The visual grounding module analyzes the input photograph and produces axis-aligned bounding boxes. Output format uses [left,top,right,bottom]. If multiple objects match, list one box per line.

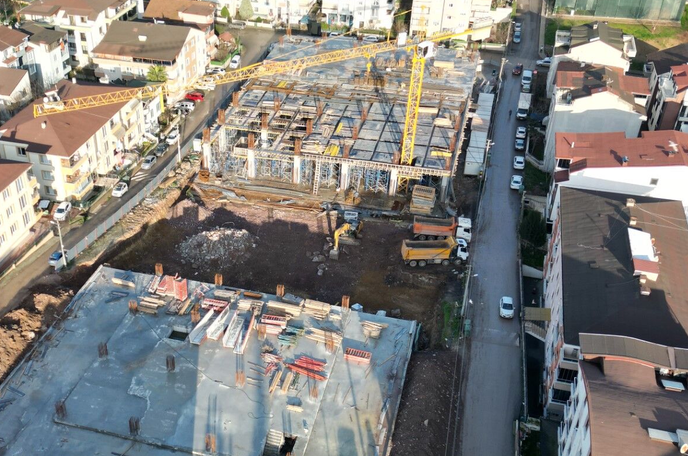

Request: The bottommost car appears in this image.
[499,292,516,318]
